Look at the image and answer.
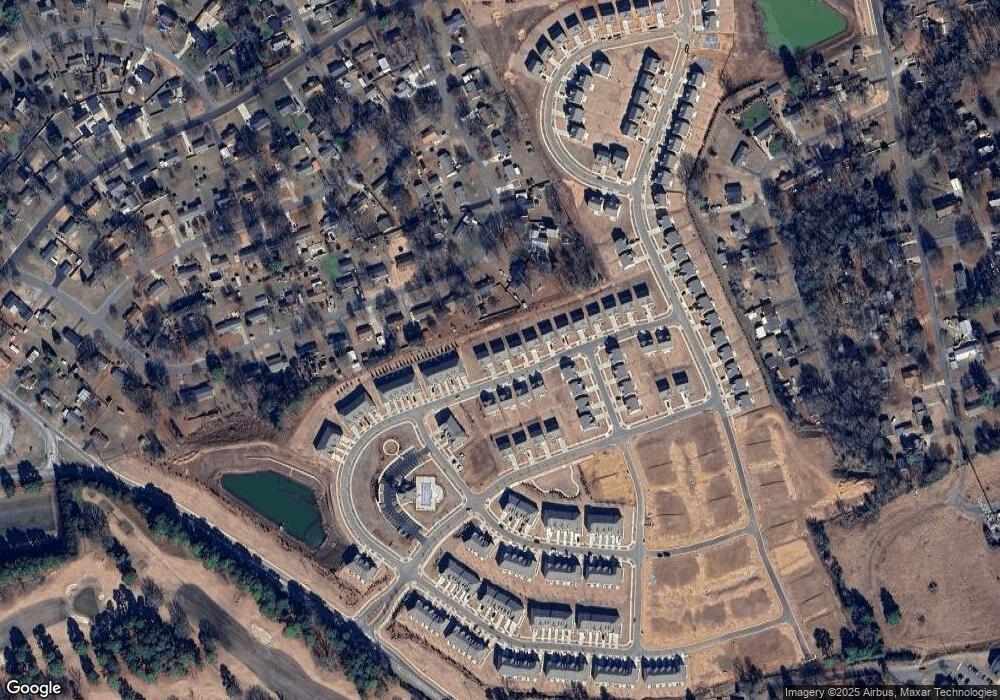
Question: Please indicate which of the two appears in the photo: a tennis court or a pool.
pool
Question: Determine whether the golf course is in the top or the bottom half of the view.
bottom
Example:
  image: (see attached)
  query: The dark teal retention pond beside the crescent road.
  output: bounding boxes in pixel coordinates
[218,469,327,551]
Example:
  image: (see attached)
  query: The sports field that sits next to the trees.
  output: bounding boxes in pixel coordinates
[0,494,56,540]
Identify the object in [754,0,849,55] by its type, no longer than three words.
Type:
pond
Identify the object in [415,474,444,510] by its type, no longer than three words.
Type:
swimming pool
